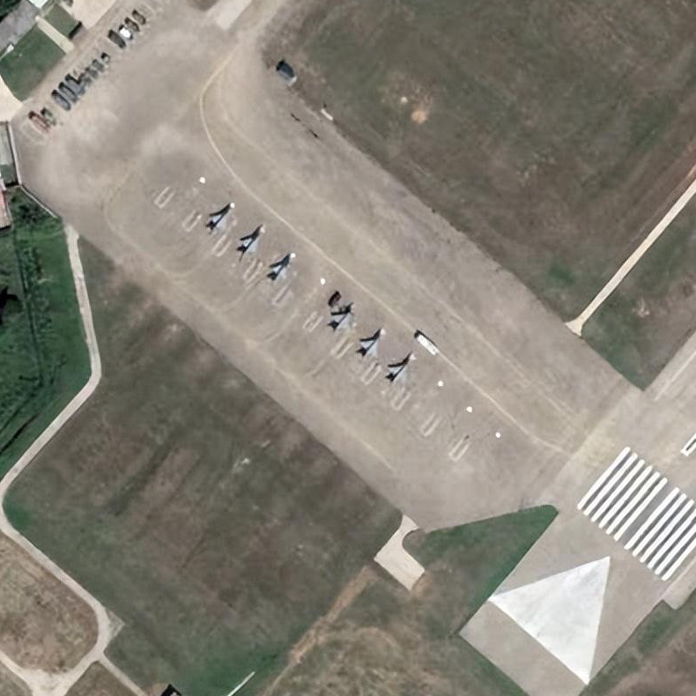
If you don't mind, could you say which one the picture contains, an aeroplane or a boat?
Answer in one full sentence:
The one in the frame is an aeroplane.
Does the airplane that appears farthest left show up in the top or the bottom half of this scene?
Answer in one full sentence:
The airplane that appears farthest left is in the top half of the image.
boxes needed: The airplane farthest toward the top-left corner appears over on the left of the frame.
[206,205,232,235]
